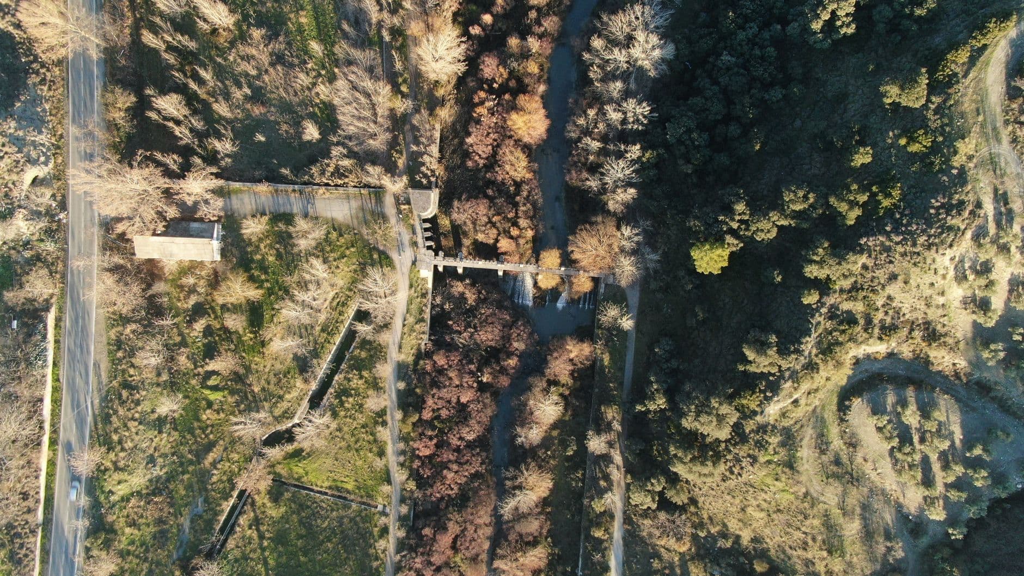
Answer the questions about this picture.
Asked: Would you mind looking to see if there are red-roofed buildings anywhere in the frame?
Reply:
No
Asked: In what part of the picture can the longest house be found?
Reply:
left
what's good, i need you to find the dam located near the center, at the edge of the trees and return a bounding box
[504,272,599,304]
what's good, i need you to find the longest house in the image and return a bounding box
[130,222,220,260]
